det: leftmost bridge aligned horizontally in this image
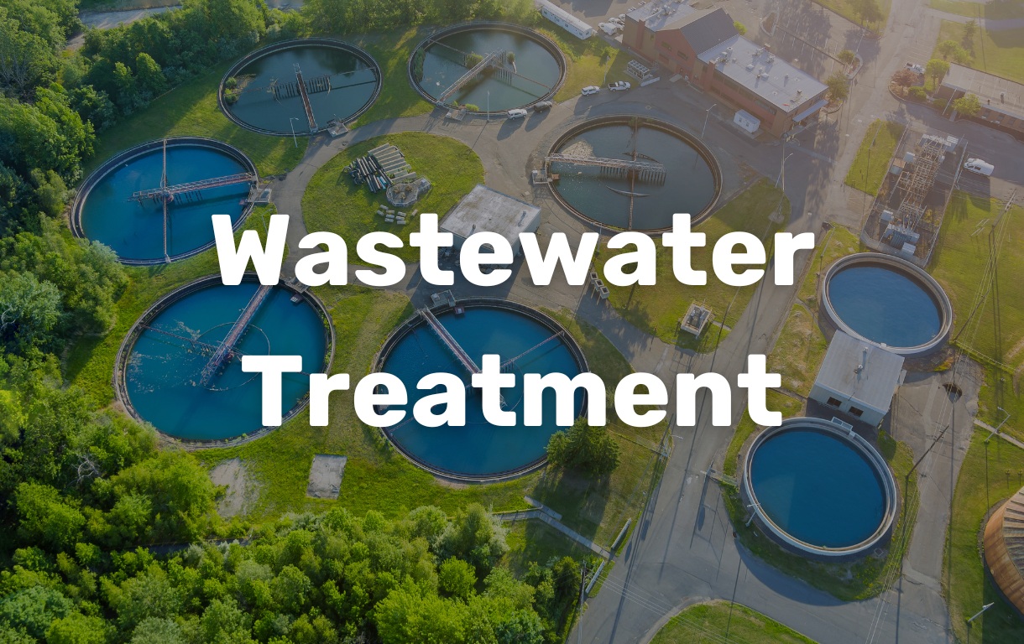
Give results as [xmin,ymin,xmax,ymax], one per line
[118,163,260,208]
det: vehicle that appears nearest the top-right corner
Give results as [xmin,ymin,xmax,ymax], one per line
[905,59,928,74]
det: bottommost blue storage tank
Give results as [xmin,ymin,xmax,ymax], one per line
[738,417,898,562]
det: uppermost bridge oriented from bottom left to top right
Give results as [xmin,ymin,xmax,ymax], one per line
[434,45,504,105]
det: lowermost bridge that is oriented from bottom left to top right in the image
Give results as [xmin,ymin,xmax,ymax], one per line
[197,268,285,385]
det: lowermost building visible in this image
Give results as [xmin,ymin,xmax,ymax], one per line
[811,331,907,426]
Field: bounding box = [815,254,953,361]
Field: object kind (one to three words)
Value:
storage tank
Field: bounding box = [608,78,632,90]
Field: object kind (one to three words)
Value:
vehicle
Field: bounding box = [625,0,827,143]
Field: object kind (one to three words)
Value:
building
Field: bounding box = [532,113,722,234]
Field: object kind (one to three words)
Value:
storage tank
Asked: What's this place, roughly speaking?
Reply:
industrial area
